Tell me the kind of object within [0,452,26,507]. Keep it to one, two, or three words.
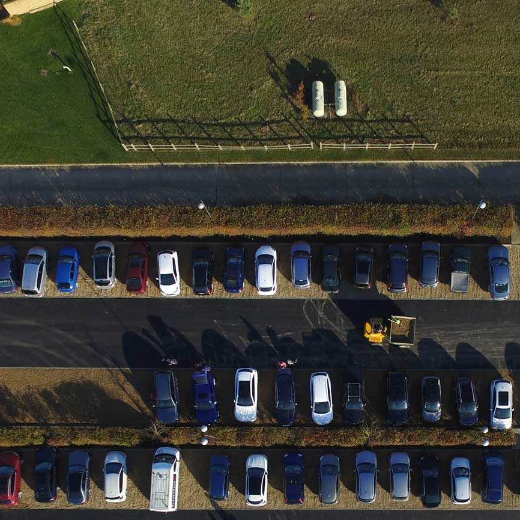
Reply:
car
